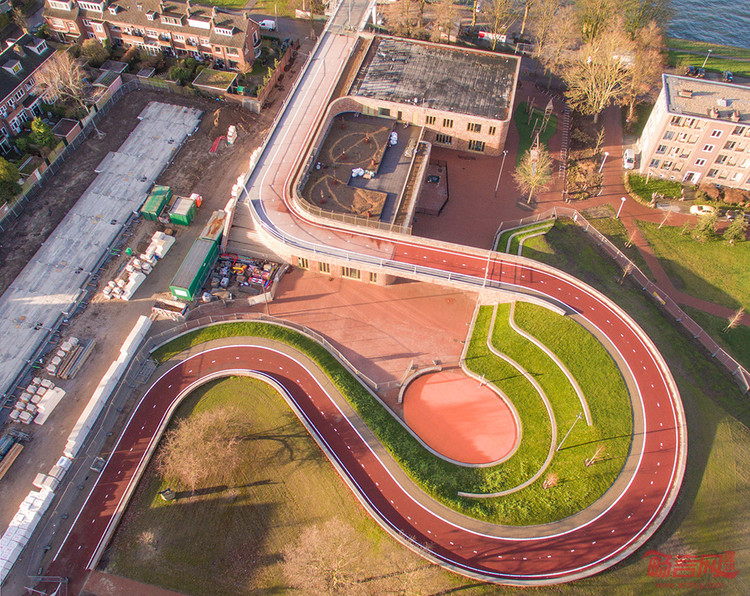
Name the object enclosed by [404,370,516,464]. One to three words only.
sports court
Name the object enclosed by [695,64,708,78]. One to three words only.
vehicle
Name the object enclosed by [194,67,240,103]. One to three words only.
shed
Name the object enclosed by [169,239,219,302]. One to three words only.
building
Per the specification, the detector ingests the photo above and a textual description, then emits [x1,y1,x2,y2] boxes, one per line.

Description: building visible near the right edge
[641,77,750,191]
